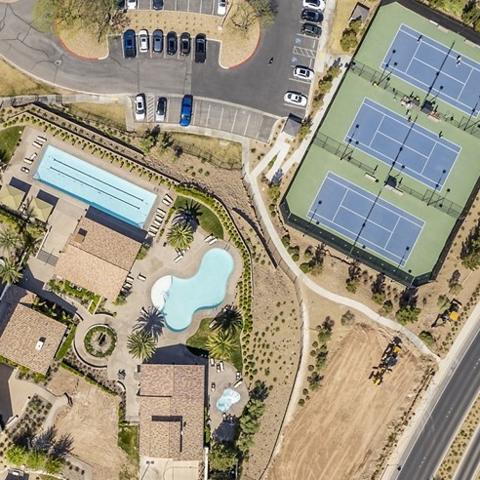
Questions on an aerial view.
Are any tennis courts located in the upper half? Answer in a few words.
Yes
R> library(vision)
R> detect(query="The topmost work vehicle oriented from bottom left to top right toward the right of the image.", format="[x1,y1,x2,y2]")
[439,306,463,326]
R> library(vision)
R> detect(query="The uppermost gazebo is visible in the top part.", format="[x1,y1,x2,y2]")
[349,2,370,26]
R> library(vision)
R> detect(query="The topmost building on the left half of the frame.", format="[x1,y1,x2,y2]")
[54,213,141,302]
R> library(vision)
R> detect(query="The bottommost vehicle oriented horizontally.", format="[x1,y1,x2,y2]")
[284,92,307,105]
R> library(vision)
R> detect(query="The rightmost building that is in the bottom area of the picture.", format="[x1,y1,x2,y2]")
[137,365,204,461]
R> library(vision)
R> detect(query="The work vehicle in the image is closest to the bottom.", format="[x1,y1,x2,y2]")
[374,340,403,383]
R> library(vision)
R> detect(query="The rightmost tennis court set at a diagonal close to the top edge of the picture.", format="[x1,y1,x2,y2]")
[380,23,480,118]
